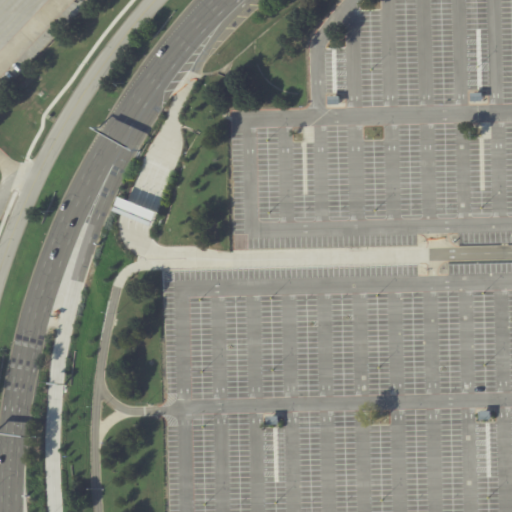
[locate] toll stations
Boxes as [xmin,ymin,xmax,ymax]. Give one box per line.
[114,192,163,226]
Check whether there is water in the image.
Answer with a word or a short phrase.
No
